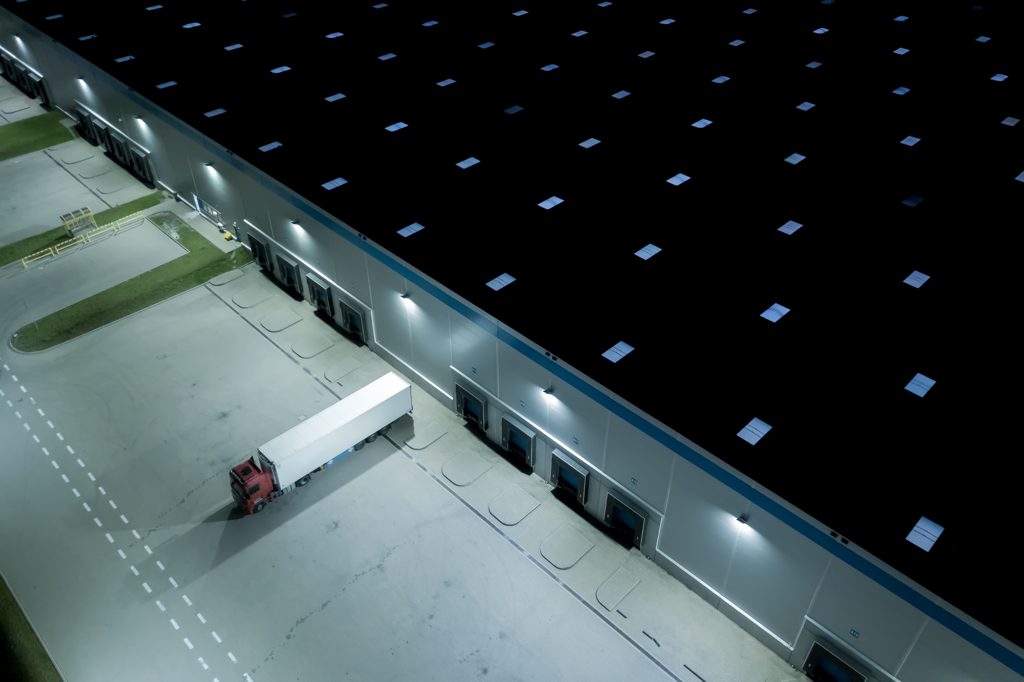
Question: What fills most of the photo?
buildings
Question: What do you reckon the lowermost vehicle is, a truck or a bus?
truck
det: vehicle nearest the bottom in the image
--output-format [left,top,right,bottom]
[227,372,413,514]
